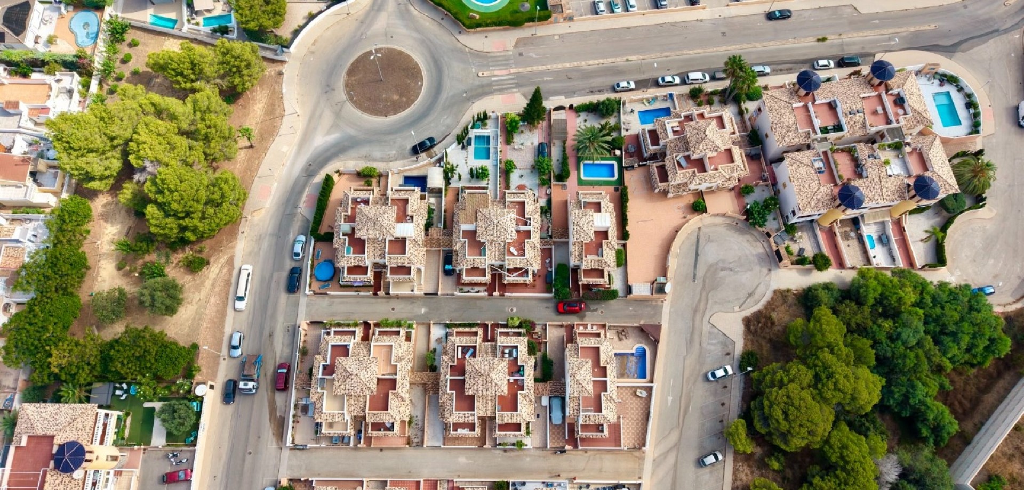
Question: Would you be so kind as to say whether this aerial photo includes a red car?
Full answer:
Yes, there's a red car down there.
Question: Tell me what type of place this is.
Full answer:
What you see here is a residential area.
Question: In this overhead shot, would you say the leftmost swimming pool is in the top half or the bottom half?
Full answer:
It is in the top half that the leftmost swimming pool appears.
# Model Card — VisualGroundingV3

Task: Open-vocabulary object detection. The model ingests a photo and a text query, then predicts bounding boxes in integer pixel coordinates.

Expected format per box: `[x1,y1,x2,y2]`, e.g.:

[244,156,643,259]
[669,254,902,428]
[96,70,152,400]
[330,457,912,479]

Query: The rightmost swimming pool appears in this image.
[931,91,963,128]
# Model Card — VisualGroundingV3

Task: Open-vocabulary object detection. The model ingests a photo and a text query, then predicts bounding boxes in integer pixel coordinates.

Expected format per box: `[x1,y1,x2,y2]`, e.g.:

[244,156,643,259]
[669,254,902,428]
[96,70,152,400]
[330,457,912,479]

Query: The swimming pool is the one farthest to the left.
[69,8,100,46]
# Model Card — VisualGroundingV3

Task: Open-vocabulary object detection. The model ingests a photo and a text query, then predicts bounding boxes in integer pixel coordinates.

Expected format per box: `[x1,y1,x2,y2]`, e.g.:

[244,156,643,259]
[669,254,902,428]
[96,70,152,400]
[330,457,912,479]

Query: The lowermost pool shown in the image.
[613,344,648,381]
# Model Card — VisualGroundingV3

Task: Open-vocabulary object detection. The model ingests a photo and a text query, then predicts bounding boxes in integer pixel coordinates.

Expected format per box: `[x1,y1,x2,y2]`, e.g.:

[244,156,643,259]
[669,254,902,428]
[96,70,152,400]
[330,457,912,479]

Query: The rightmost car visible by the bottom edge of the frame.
[698,450,724,467]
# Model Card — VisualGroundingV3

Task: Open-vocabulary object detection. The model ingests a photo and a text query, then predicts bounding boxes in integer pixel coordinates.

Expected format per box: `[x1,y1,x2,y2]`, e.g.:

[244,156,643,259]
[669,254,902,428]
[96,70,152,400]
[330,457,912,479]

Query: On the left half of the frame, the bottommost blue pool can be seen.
[313,260,337,283]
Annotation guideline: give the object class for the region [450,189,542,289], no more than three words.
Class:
house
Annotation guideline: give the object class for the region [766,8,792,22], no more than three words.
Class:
car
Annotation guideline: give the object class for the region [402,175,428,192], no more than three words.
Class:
swimming pool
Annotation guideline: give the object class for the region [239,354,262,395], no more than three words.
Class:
truck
